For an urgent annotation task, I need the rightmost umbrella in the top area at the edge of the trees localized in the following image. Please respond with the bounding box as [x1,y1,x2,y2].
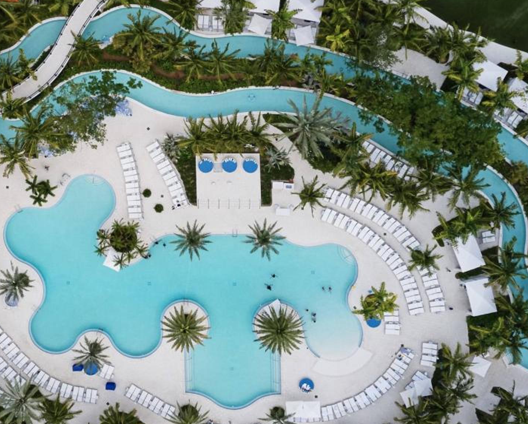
[293,24,315,47]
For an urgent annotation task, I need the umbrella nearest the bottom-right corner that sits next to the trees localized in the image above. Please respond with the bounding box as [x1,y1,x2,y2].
[468,352,492,377]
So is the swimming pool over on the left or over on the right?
left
